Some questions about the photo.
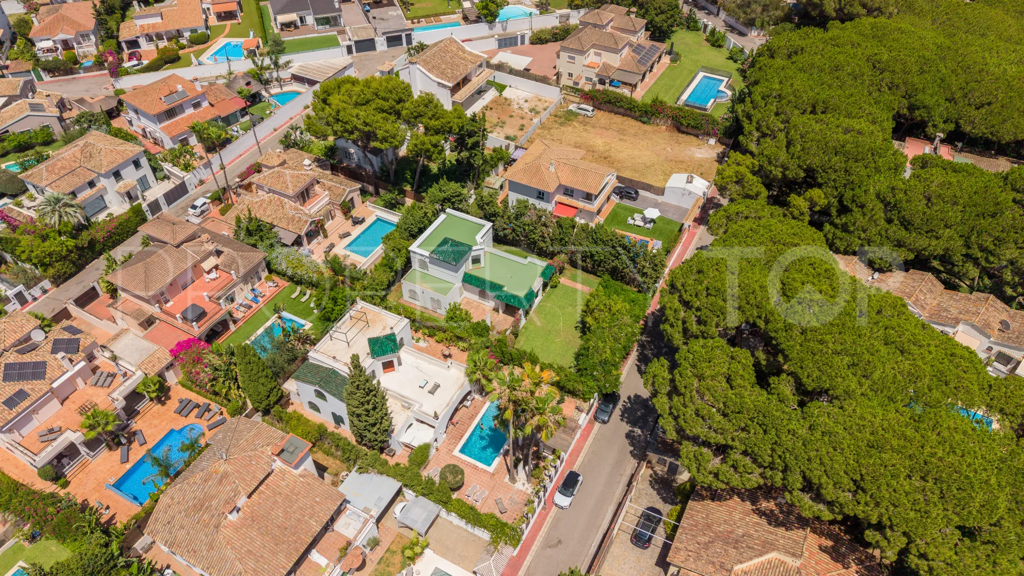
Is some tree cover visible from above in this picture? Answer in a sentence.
Yes, some tree cover is visible.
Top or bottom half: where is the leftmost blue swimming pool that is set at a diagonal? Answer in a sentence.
The leftmost blue swimming pool that is set at a diagonal sits in the bottom half of the picture.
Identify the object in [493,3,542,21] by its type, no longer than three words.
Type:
swimming pool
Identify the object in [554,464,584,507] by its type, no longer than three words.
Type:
car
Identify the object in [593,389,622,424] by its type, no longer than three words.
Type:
car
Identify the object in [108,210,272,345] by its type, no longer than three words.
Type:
house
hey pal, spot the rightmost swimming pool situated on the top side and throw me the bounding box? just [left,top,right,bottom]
[681,72,733,111]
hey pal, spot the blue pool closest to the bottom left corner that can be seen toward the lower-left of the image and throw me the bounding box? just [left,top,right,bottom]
[112,421,207,499]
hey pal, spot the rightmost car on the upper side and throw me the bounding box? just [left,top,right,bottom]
[611,182,644,200]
